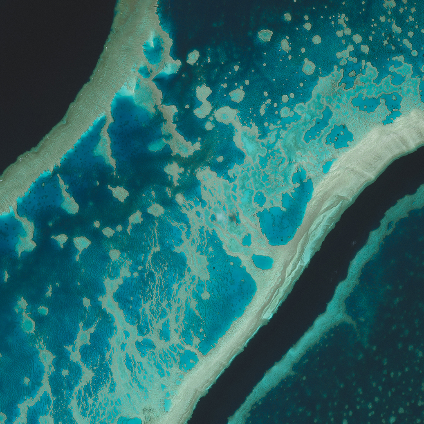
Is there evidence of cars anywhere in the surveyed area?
No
